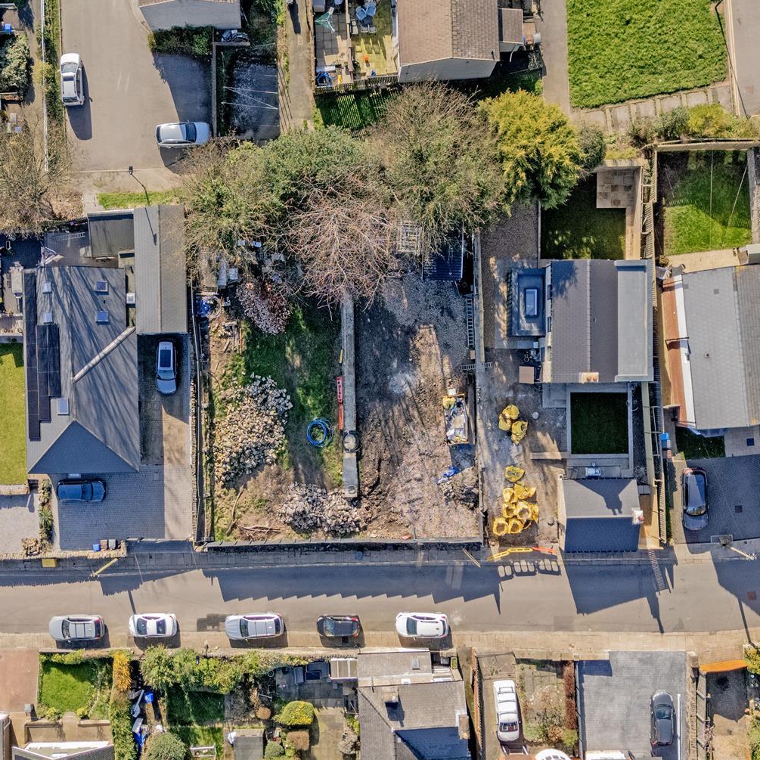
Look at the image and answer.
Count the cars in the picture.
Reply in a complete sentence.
Looking from above, you can make out 12 cars.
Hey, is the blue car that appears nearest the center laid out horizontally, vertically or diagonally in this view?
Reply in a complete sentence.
The blue car that appears nearest the center has been laid out vertically relative to the frame.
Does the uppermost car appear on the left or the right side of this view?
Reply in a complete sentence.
You can find the uppermost car on the left side of the picture.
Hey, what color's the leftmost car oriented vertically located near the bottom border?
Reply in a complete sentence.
The leftmost car oriented vertically located near the bottom border looks white in the image.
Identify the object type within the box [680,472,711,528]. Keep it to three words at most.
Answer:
car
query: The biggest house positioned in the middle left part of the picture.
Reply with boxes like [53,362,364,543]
[8,267,140,478]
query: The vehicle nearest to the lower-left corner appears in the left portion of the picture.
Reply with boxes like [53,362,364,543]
[49,614,107,644]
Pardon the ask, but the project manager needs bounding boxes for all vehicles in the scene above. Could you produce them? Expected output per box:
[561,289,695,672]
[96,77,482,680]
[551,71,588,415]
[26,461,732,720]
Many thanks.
[680,472,711,528]
[156,120,209,147]
[128,613,177,640]
[493,676,522,741]
[55,478,108,504]
[49,614,107,644]
[317,614,361,639]
[395,610,448,639]
[55,54,84,108]
[151,340,178,394]
[225,613,284,643]
[649,688,677,746]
